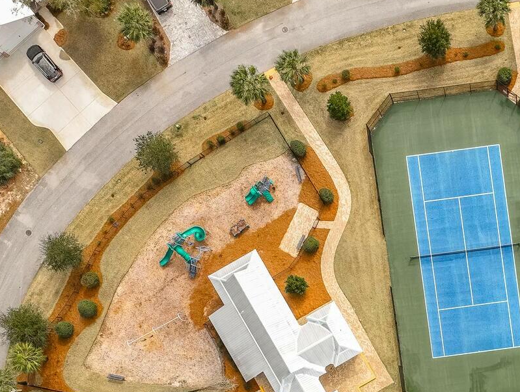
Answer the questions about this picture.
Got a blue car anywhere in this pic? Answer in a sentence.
No, no blue car can be seen from above.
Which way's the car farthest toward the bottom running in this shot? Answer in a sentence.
What the image shows is the car farthest toward the bottom lying at an angle.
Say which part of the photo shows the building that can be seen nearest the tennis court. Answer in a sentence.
The building that can be seen nearest the tennis court is located in the bottom region of the scene.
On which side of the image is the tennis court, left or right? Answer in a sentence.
The tennis court sits on the right side.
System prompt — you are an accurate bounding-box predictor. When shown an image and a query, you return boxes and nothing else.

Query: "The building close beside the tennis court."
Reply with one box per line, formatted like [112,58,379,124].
[208,250,364,392]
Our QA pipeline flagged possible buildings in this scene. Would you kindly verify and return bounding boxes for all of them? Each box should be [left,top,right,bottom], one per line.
[208,250,364,392]
[0,0,46,60]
